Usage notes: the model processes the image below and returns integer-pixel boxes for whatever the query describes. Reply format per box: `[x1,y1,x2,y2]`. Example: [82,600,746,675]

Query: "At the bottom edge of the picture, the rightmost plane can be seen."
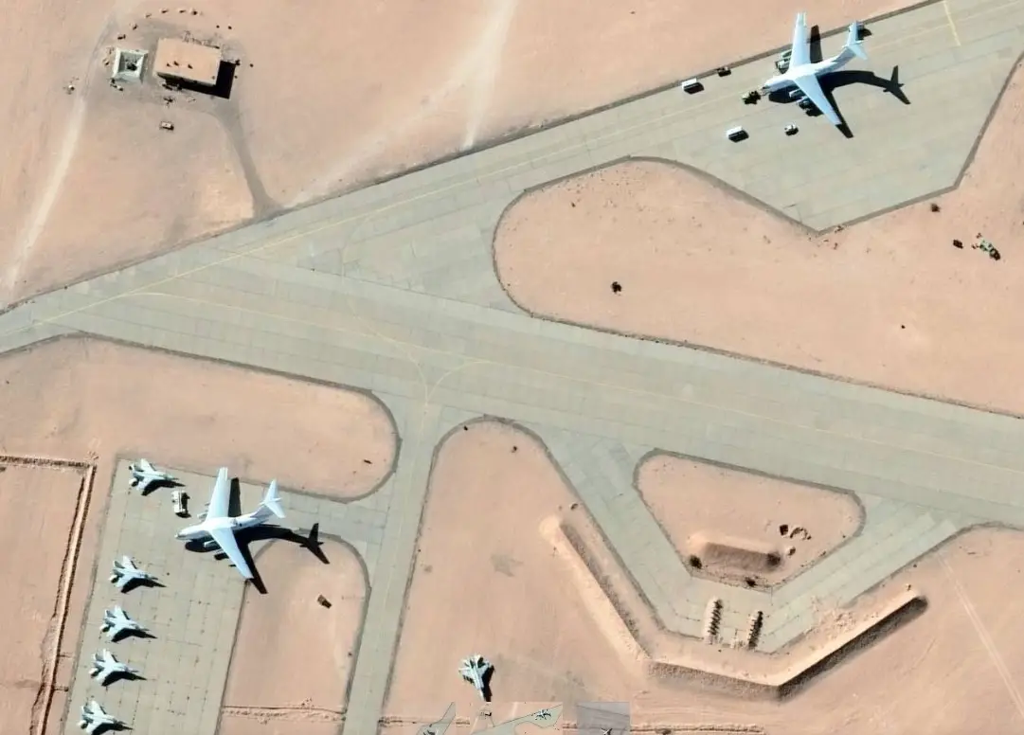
[460,652,494,700]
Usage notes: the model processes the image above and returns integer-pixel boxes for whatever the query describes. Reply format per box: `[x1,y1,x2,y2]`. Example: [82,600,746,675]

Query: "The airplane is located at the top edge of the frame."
[763,11,870,120]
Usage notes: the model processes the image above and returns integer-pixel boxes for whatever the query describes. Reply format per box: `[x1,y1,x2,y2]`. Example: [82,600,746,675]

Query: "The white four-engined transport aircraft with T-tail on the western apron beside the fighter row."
[175,464,282,577]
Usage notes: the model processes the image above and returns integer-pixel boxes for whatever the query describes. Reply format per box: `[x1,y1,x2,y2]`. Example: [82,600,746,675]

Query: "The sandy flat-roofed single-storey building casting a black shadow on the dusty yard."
[152,39,222,88]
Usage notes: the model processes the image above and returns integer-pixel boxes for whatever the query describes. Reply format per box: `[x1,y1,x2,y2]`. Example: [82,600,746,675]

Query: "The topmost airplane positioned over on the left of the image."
[130,457,175,491]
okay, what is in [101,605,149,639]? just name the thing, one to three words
airplane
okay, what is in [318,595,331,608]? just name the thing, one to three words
vehicle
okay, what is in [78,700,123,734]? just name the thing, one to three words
airplane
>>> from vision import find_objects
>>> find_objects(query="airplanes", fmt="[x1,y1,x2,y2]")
[763,11,870,120]
[110,555,156,590]
[90,647,136,682]
[460,652,494,700]
[78,700,123,734]
[175,464,282,577]
[130,457,175,491]
[101,605,149,639]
